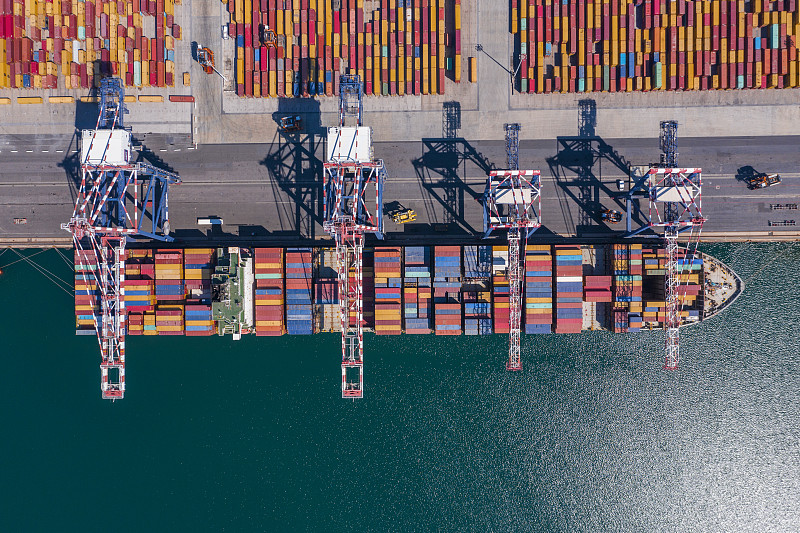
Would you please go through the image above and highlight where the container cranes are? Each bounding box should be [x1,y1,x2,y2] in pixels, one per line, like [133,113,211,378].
[61,78,184,406]
[605,119,714,370]
[321,76,393,404]
[466,120,547,372]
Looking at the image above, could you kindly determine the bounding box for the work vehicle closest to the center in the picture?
[394,208,416,224]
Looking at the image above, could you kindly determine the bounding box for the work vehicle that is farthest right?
[748,174,781,191]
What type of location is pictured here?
port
